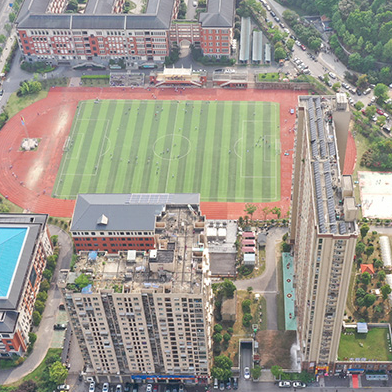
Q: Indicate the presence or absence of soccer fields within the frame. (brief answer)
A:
Yes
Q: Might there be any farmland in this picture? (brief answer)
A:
No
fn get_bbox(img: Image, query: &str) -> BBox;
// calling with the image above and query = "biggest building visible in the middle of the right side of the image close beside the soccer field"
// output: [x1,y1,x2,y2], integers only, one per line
[289,89,372,370]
